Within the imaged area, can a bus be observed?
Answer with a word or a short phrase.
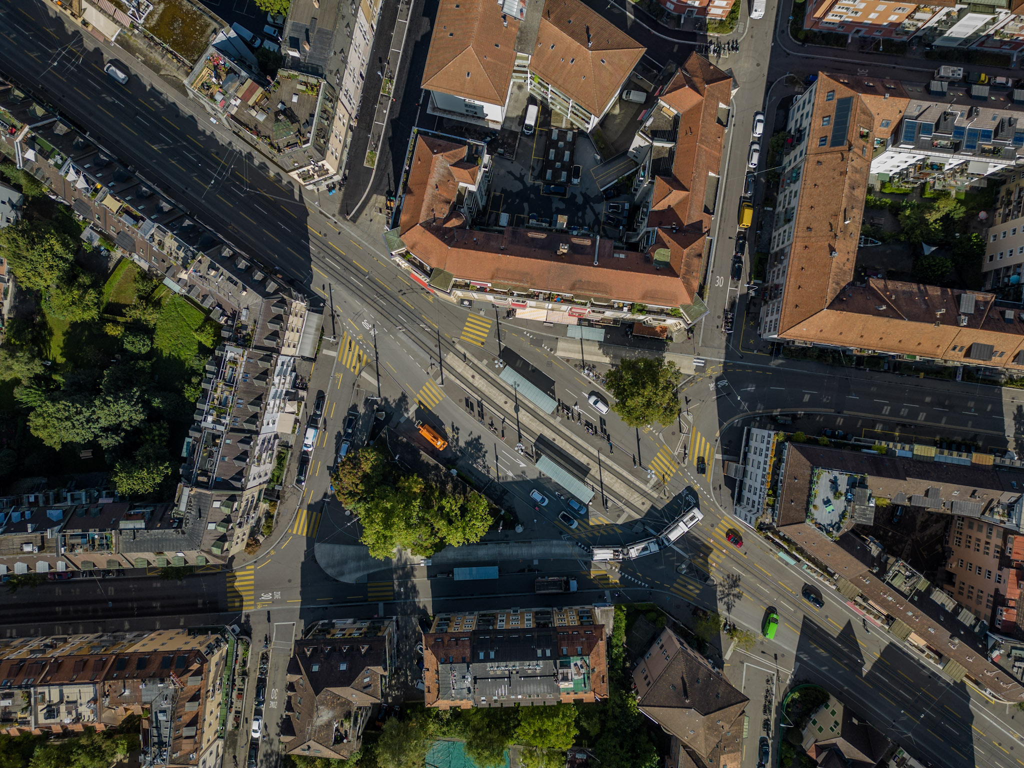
Yes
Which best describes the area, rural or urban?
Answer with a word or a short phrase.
urban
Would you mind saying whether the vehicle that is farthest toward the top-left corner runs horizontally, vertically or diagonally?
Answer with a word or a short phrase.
diagonally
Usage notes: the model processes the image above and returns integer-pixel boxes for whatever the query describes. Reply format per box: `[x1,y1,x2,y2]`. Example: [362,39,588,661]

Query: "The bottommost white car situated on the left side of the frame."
[252,715,264,737]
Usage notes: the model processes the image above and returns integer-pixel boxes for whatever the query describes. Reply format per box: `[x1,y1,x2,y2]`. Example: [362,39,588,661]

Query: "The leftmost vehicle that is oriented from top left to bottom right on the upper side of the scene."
[104,64,131,86]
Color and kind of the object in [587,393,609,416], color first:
white car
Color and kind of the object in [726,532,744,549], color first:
red car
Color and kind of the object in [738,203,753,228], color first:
yellow vehicle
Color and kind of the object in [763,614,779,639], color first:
green vehicle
